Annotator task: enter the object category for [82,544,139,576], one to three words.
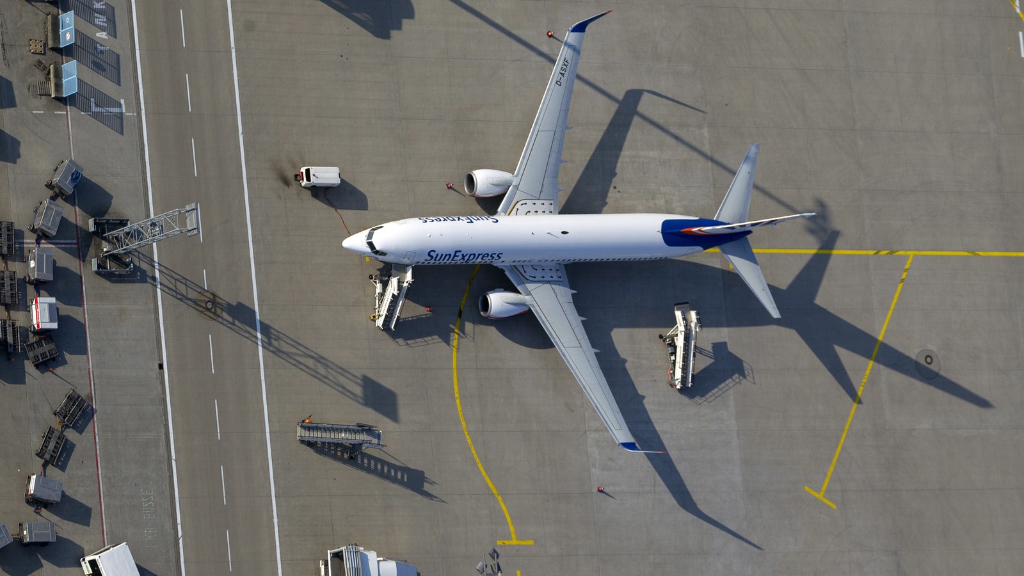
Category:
bus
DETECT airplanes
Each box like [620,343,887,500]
[342,11,814,454]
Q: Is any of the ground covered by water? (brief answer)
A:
No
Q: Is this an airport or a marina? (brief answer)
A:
airport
